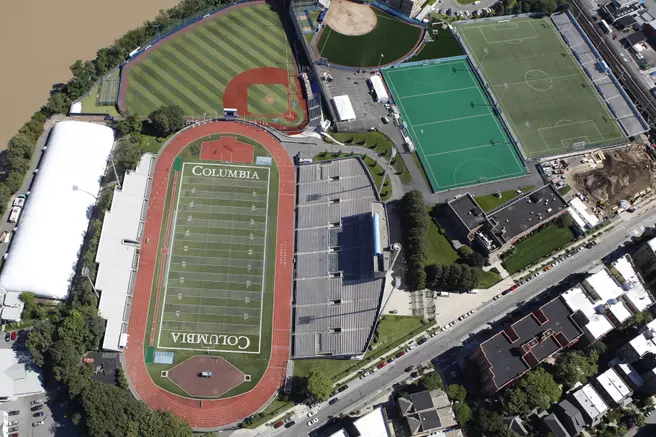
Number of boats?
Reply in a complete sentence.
The picture shows no boats.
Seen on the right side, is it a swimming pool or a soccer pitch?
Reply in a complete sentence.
Visible on the right side is a soccer pitch.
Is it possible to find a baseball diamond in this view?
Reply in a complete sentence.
Yes, a baseball diamond is visible in the scene.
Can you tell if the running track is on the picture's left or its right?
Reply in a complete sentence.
The running track sits on the left side.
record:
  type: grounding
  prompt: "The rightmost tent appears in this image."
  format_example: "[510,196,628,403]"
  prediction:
[369,76,388,106]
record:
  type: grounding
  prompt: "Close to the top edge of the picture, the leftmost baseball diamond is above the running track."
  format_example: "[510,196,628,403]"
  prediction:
[118,0,308,128]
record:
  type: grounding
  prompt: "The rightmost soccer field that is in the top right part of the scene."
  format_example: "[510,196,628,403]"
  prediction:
[455,15,630,158]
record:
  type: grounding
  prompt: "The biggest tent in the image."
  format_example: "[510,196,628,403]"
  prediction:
[332,95,356,124]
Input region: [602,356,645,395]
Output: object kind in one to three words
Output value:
house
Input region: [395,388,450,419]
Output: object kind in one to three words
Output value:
house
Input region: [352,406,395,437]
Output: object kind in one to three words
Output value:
building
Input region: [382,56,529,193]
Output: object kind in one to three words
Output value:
sports field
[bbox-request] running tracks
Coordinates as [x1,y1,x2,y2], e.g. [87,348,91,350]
[120,117,297,434]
